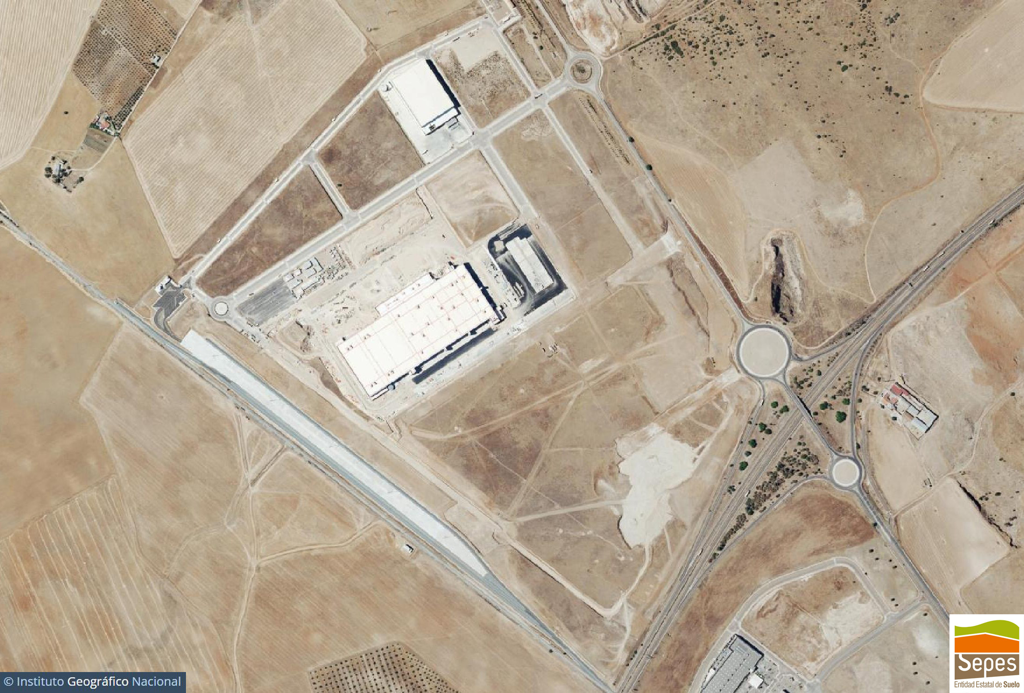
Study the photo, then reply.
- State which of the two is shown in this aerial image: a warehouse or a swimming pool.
warehouse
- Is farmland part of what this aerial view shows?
Yes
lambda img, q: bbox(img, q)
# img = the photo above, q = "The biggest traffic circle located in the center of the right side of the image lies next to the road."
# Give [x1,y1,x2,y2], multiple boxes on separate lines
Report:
[736,324,793,381]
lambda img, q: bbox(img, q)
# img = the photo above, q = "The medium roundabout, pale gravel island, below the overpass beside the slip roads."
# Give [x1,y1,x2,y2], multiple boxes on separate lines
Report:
[829,455,864,490]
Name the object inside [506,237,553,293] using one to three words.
building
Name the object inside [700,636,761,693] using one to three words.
building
